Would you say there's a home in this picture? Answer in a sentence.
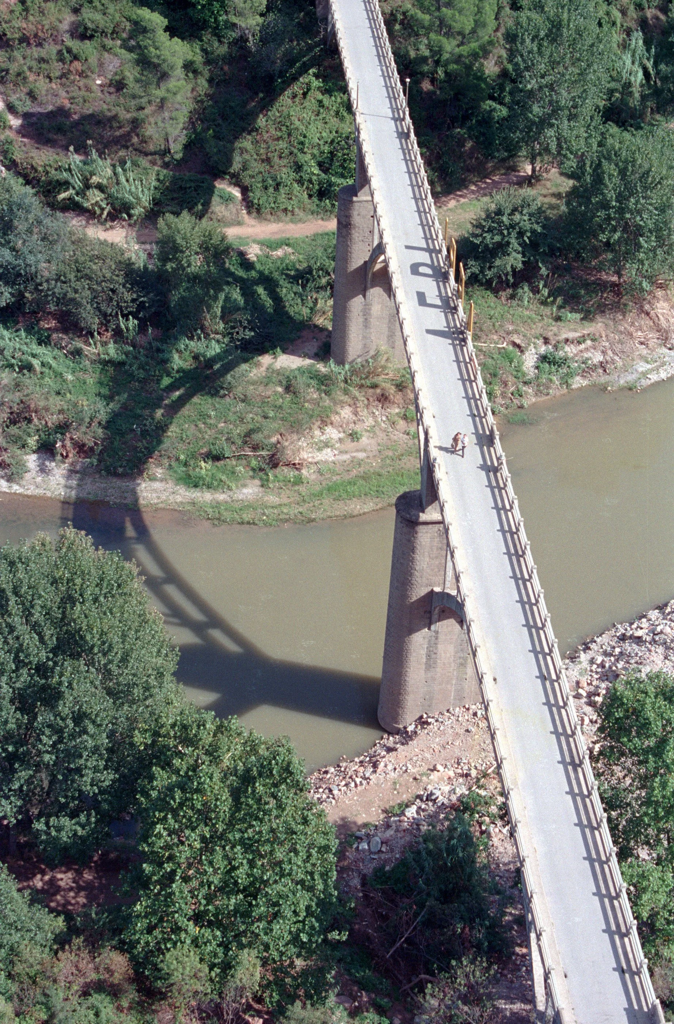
No, I can't see a single home in this photo.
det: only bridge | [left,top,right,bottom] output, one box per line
[300,0,668,1024]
